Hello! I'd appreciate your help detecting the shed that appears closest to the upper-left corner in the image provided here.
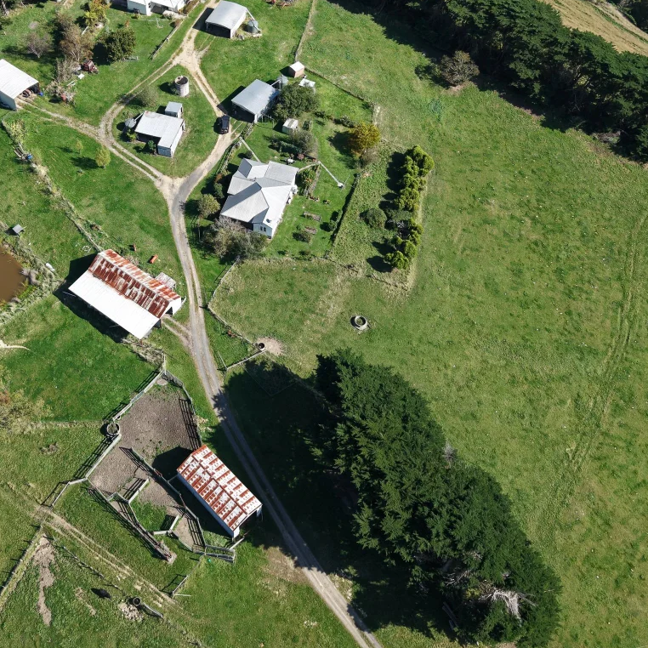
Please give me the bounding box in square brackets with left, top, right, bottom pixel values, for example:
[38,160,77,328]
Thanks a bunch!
[0,59,41,111]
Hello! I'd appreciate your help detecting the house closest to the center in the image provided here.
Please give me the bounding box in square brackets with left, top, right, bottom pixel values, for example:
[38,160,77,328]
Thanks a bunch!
[221,159,299,237]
